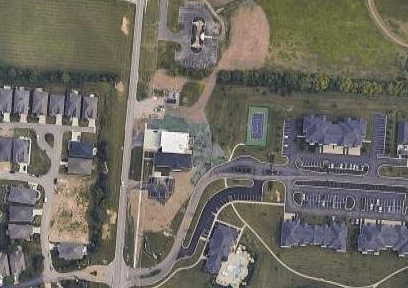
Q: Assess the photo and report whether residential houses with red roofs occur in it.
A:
No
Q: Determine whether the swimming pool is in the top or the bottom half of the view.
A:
bottom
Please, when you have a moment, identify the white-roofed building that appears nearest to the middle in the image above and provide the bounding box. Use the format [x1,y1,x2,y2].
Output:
[160,131,189,153]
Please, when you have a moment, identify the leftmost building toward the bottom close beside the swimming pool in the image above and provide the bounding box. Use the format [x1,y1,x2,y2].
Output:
[205,224,240,272]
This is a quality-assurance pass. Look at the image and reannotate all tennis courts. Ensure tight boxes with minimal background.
[247,105,268,145]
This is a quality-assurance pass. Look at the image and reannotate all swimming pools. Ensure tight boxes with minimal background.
[219,246,252,288]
